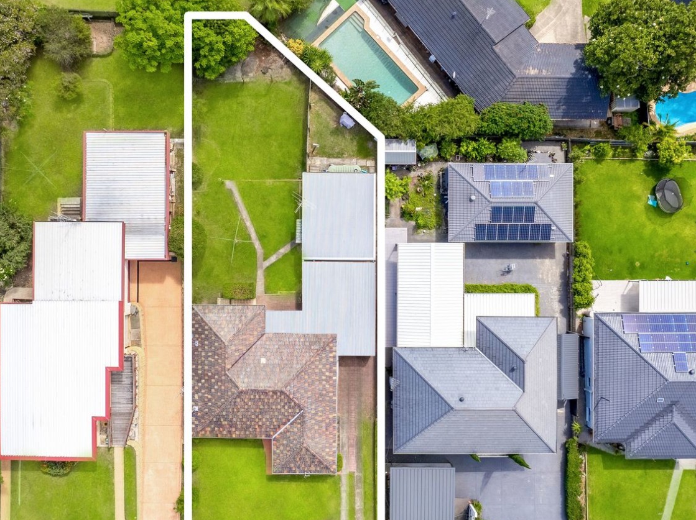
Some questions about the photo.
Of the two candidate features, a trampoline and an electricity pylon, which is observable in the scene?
trampoline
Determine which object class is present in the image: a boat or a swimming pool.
swimming pool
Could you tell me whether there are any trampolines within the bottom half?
No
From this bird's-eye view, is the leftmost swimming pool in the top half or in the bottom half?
top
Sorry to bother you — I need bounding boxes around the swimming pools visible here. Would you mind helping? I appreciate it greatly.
[650,85,696,134]
[315,6,427,123]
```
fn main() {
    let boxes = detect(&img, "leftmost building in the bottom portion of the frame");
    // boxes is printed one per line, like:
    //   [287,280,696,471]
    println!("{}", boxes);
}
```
[0,221,132,460]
